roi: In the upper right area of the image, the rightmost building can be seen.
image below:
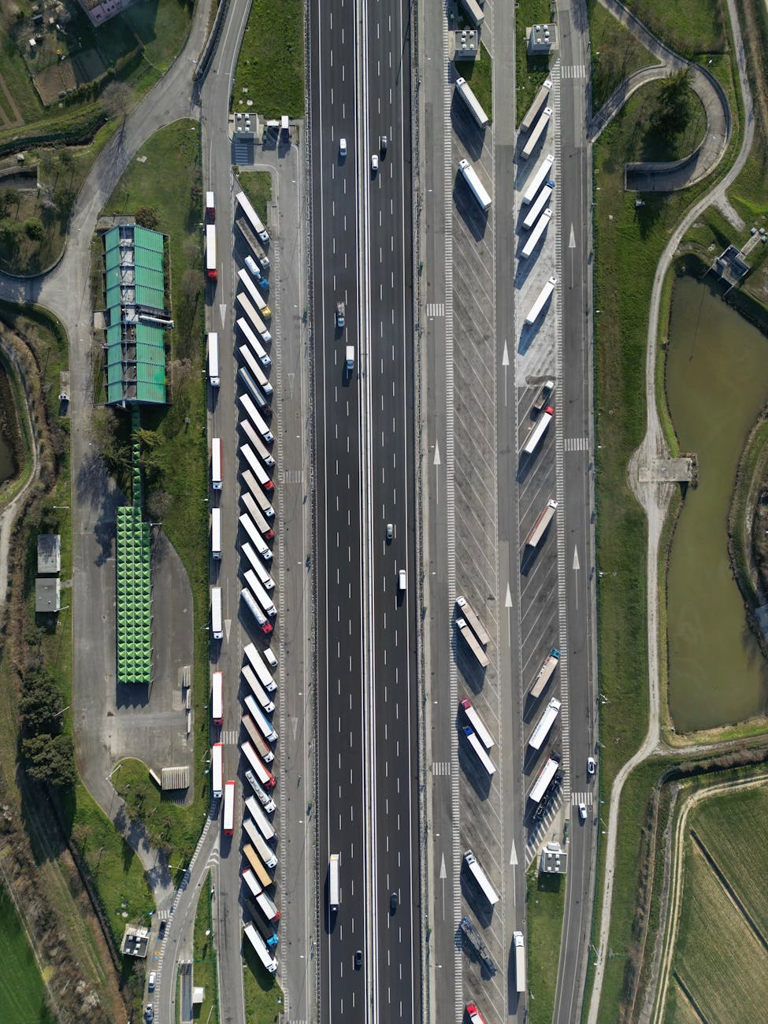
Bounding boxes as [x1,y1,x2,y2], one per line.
[702,244,755,294]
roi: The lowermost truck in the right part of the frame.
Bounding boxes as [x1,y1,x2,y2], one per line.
[466,994,489,1024]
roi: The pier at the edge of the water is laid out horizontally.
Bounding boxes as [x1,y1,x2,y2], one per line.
[639,458,692,482]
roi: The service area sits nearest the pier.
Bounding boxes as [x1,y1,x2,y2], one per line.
[423,0,594,1024]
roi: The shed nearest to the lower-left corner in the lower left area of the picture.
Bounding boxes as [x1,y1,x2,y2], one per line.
[123,919,153,957]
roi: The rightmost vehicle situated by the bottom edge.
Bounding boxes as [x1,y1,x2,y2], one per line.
[513,926,525,992]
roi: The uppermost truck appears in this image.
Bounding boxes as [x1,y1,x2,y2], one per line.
[459,0,484,30]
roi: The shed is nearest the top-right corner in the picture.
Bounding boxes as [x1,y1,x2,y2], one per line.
[531,23,556,50]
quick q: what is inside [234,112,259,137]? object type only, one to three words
shed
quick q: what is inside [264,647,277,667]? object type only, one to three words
vehicle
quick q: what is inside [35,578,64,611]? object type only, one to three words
shed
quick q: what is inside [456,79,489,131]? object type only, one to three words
truck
